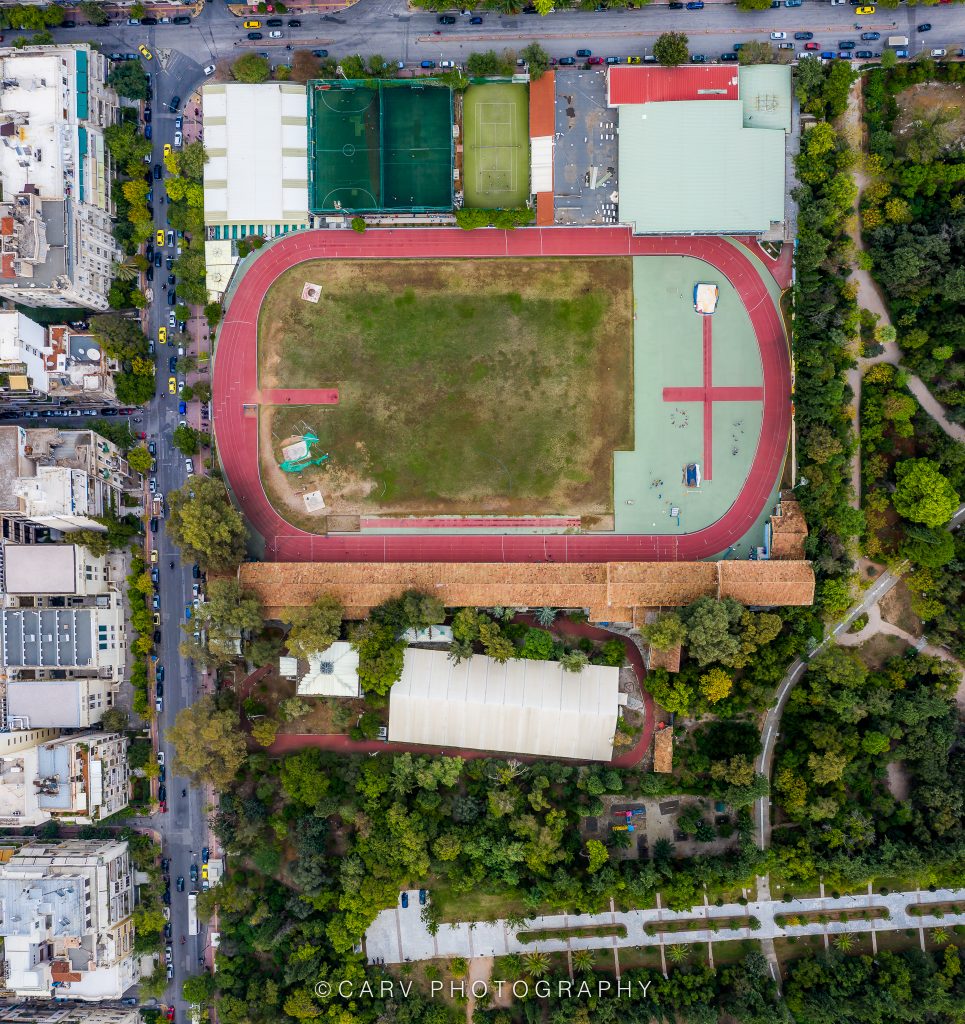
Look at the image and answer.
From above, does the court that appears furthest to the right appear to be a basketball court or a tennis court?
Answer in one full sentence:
The court that appears furthest to the right can be classified as a tennis court.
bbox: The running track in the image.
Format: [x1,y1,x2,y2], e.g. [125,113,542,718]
[203,225,793,562]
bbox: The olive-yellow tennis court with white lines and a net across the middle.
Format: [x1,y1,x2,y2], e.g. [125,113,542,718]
[463,83,530,209]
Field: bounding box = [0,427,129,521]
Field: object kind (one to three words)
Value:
building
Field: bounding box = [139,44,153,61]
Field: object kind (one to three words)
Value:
car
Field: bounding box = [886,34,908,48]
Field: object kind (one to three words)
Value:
vehicle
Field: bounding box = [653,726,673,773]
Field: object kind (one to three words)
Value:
shed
